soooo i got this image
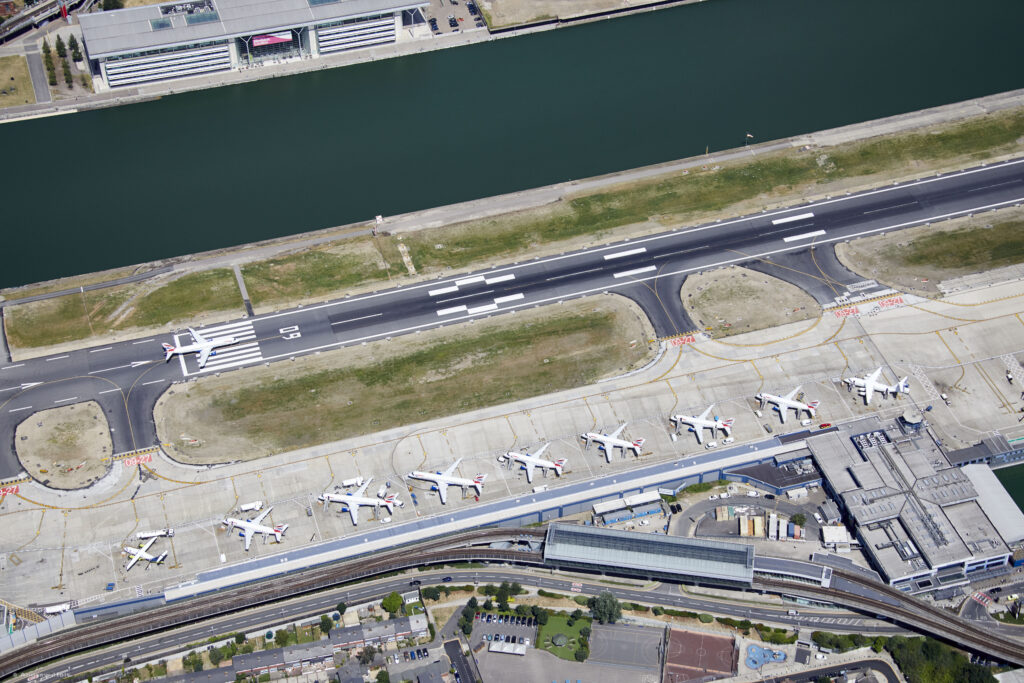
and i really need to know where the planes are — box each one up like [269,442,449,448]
[162,323,241,366]
[221,505,288,548]
[579,420,646,461]
[843,364,913,403]
[755,382,821,422]
[406,457,488,504]
[317,477,398,525]
[503,440,570,481]
[669,400,736,441]
[122,532,169,571]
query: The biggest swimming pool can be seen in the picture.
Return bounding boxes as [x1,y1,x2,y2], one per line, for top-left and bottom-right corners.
[745,644,787,670]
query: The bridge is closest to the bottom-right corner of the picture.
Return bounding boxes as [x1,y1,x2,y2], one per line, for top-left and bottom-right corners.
[750,553,1024,669]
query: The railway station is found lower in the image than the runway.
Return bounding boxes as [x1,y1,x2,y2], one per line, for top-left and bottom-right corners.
[538,523,756,600]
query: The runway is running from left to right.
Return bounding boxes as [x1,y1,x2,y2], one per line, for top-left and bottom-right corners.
[0,157,1024,420]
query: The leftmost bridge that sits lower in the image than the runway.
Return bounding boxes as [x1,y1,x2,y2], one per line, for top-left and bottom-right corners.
[0,526,548,678]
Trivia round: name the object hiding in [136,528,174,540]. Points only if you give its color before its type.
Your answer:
white vehicle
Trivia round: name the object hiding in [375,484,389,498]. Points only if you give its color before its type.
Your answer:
white vehicle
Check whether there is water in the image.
Yes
